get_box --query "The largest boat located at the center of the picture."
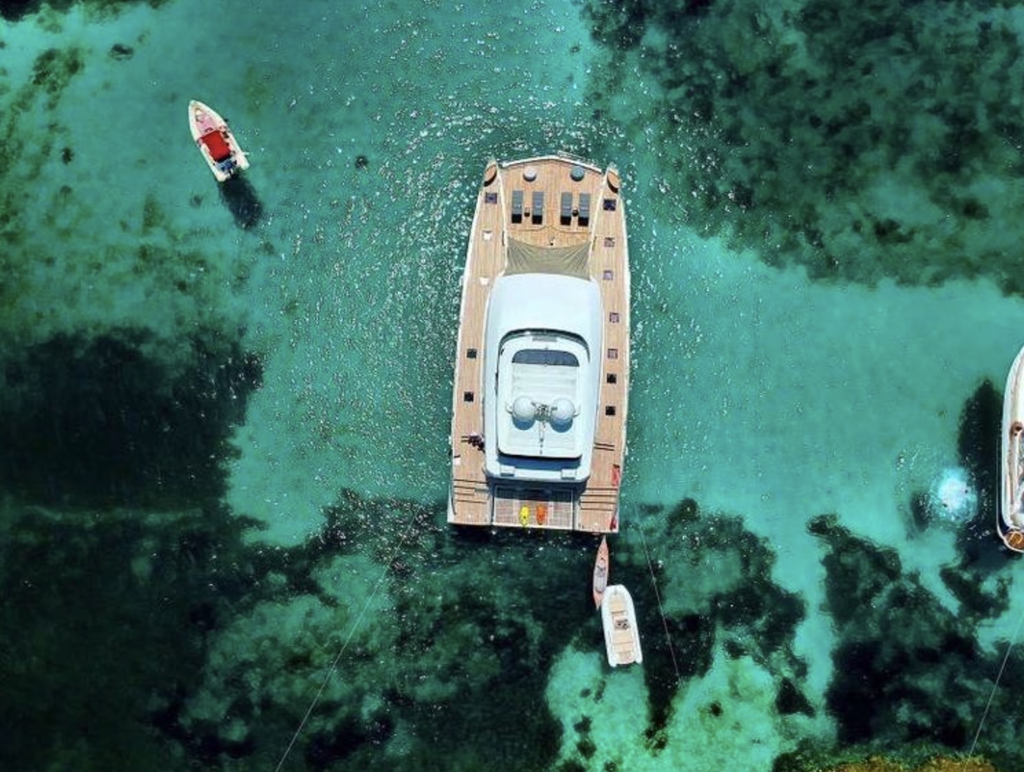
[448,150,630,529]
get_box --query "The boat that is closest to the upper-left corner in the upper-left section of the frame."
[188,98,251,186]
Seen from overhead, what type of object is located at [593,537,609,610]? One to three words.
boat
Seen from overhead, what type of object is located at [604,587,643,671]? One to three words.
boat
